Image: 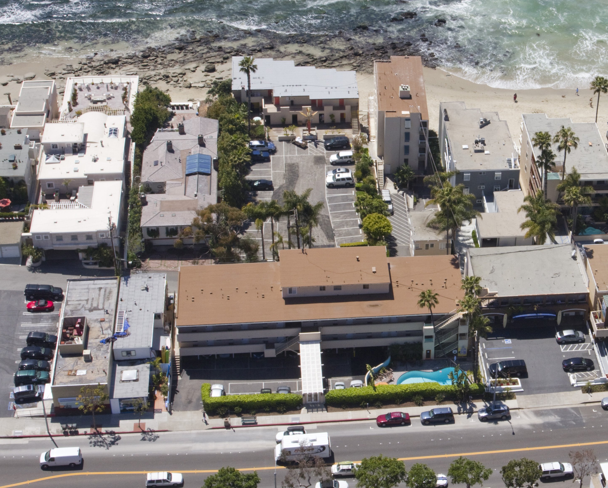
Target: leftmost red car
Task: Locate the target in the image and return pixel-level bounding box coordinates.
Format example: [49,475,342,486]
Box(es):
[23,299,56,311]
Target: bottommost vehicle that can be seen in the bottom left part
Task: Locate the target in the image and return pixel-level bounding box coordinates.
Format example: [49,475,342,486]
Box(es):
[146,470,182,487]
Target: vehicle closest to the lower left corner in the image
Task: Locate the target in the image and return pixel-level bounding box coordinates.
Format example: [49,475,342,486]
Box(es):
[39,446,83,468]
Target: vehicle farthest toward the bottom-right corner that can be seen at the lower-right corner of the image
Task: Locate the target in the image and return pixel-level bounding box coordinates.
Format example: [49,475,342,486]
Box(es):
[538,460,575,480]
